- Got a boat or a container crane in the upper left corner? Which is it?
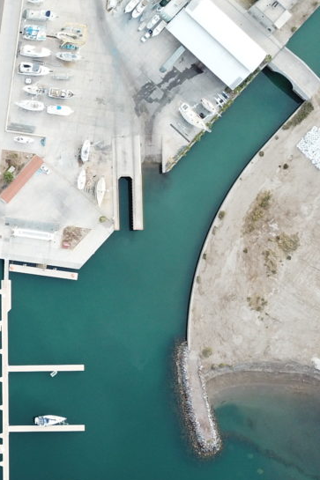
boat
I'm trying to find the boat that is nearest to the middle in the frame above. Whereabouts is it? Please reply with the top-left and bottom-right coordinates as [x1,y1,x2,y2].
[92,178,114,207]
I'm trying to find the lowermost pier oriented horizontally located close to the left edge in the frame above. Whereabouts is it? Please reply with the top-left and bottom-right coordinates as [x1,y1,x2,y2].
[9,260,78,280]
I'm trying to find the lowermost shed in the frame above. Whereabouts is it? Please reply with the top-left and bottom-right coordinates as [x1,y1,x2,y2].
[0,154,44,205]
